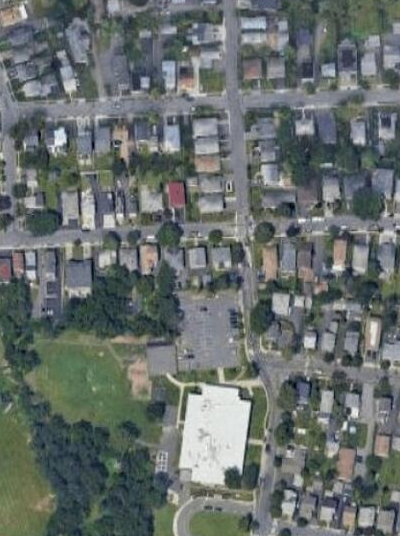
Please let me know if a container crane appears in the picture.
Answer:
No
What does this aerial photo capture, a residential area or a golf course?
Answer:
residential area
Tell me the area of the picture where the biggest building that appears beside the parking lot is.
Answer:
bottom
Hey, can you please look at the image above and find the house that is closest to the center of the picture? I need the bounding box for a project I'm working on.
[190,244,206,272]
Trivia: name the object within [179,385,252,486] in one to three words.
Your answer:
building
